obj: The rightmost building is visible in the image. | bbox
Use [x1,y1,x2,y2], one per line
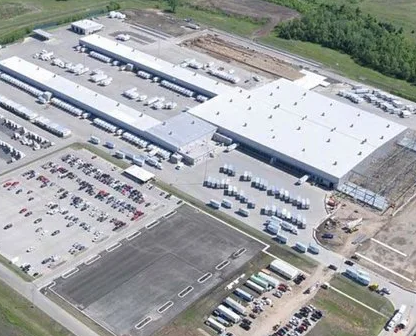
[338,135,416,211]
